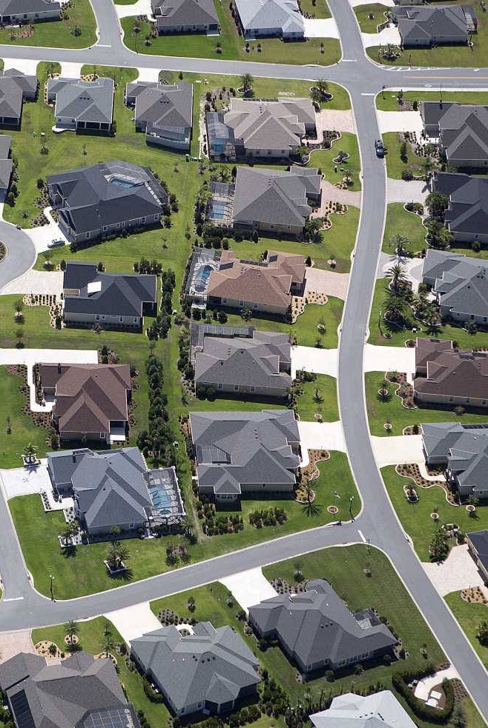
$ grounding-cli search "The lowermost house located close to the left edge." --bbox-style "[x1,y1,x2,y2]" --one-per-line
[0,655,124,728]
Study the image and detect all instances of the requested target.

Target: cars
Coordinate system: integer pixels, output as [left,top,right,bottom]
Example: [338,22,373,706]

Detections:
[376,141,385,152]
[47,238,65,247]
